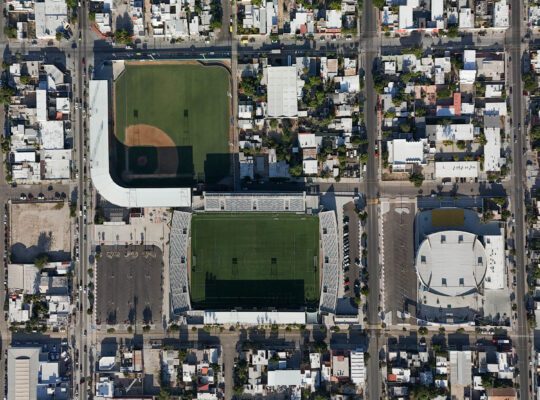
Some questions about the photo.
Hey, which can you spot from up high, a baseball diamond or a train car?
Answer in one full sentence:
Of the two, only a baseball diamond appears.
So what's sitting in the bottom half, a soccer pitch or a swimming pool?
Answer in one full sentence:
You can see a soccer pitch in the bottom half.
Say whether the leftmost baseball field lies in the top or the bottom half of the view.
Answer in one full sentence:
Seen from above, the leftmost baseball field lies in the top half of the view.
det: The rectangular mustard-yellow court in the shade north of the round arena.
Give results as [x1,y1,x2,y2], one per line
[432,210,464,226]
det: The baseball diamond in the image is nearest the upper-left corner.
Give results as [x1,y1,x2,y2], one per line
[112,61,232,186]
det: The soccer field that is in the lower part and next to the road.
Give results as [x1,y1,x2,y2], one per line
[187,212,323,310]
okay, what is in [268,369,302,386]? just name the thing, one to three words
building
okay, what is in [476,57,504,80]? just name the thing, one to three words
building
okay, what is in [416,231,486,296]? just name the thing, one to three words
stadium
